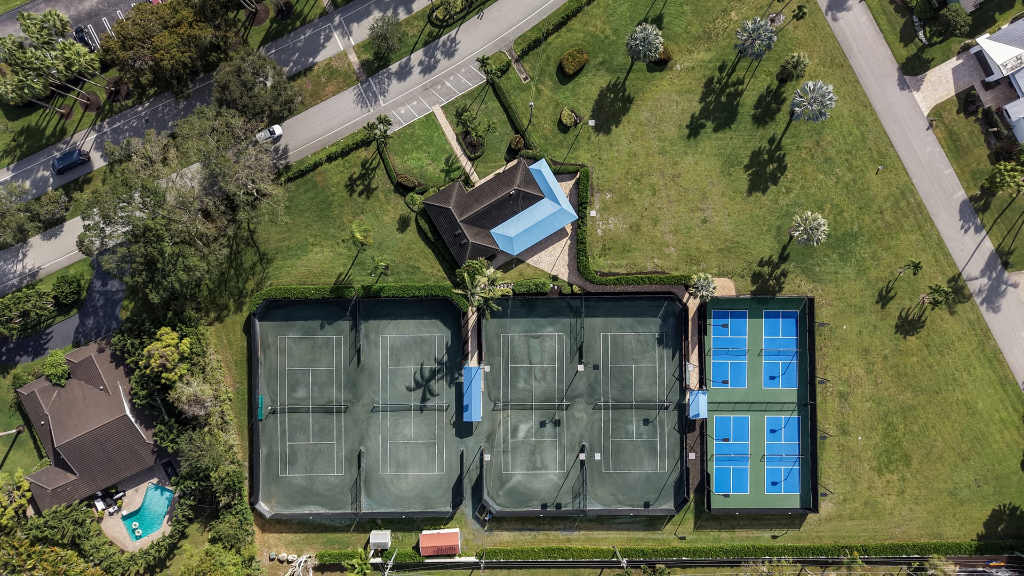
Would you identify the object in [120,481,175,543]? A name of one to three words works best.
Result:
swimming pool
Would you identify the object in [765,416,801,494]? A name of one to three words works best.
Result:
sports court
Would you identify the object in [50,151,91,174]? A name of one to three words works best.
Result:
vehicle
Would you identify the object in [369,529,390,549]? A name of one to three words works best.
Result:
shed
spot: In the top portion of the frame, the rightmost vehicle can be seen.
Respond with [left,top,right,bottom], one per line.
[254,125,284,145]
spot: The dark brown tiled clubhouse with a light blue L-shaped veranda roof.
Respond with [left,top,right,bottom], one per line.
[422,157,579,265]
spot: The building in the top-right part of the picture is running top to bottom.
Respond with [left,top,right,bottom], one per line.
[968,16,1024,144]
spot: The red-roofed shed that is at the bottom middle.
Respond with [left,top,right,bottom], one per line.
[420,528,461,556]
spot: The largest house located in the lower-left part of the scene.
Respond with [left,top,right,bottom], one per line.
[15,332,159,514]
